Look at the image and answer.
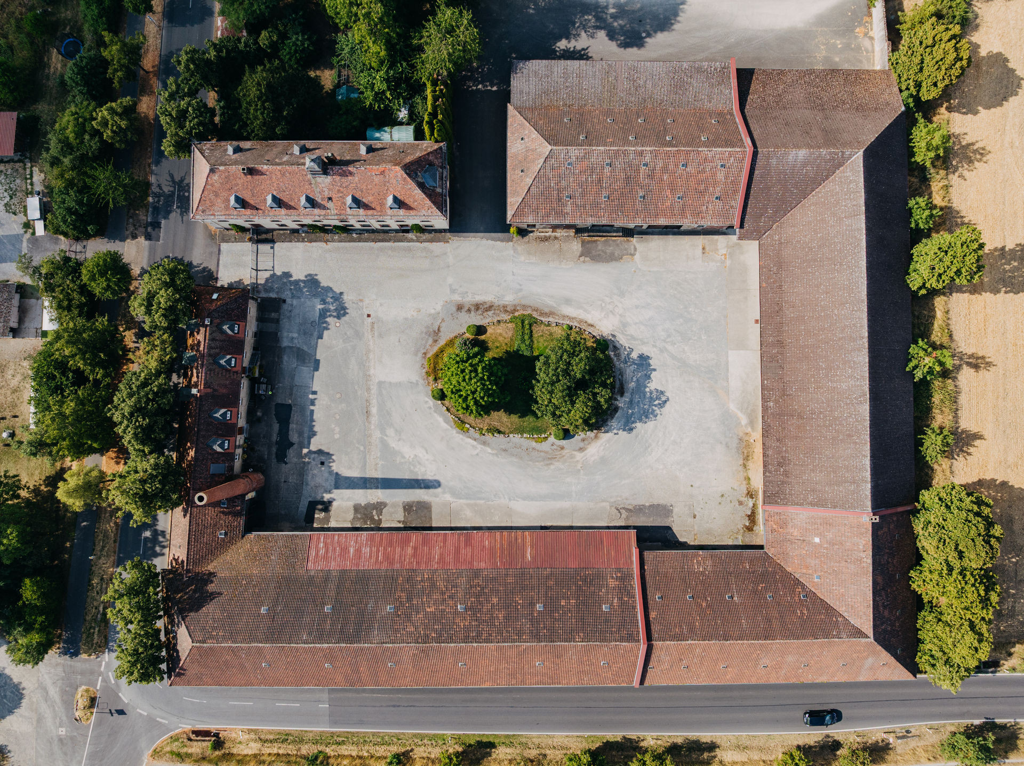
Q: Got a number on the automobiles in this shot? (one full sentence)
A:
In total, 1 automobile can be seen.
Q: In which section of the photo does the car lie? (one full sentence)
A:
Look in the bottom right portion of the view to spot the car.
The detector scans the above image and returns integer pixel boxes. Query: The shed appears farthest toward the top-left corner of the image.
[0,112,40,172]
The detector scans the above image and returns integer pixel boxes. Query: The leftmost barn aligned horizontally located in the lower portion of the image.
[160,530,647,688]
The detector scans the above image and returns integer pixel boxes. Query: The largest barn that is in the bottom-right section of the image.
[639,506,918,687]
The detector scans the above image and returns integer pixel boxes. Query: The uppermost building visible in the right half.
[506,57,753,230]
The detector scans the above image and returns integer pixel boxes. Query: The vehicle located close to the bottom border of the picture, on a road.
[803,708,835,728]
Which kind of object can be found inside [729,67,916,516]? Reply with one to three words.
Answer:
barn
